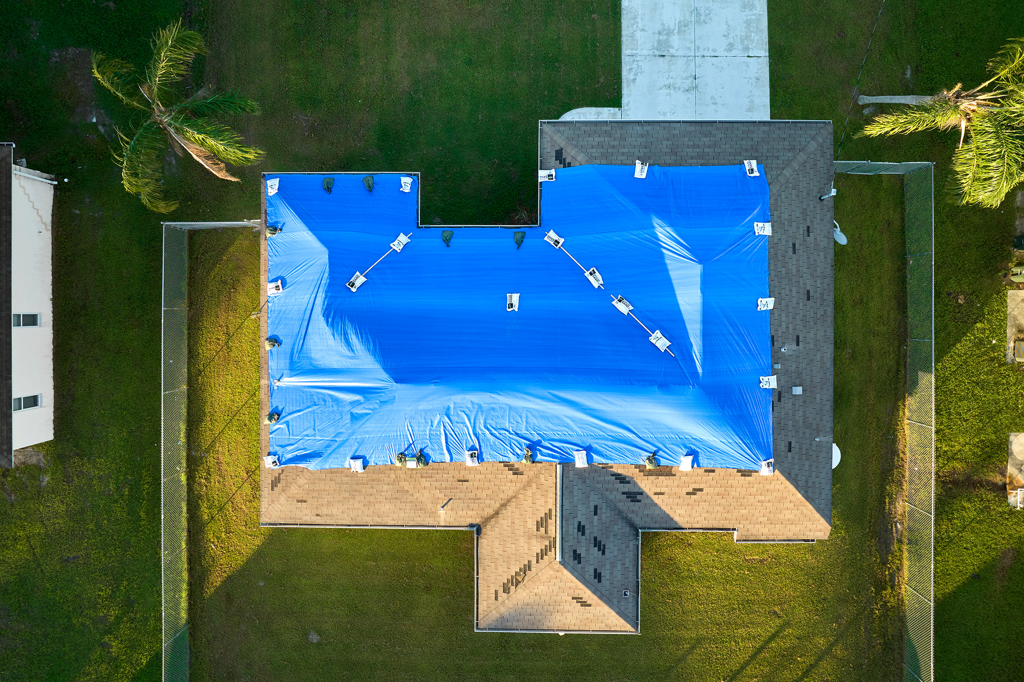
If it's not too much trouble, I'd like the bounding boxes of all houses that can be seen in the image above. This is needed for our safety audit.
[0,139,60,469]
[258,119,832,637]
